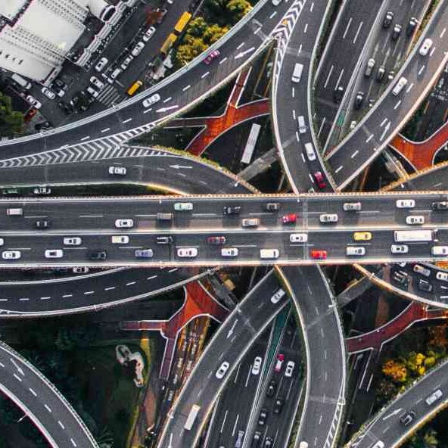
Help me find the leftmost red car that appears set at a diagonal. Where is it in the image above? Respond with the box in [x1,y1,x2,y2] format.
[24,106,39,122]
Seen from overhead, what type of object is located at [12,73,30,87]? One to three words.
vehicle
